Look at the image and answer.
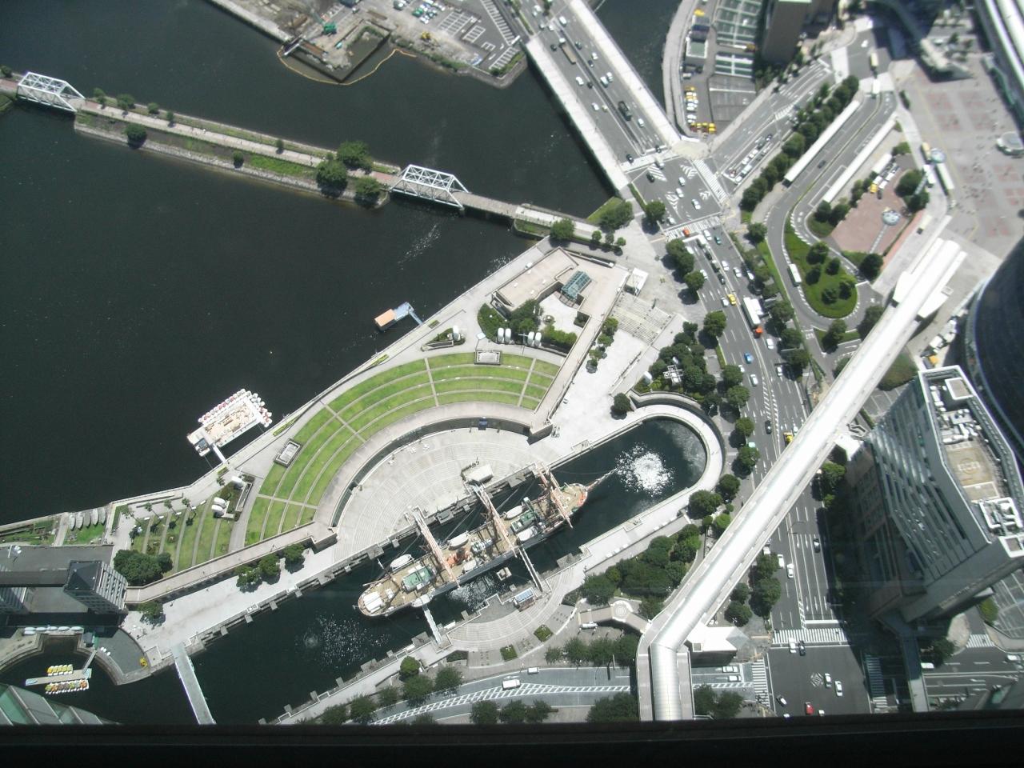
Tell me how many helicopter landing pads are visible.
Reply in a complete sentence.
Only 1 helicopter landing pad is visible.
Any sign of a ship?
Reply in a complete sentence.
Yes, I can see a ship in this picture.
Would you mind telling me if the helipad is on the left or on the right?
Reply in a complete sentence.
You can find the helipad on the right side of the picture.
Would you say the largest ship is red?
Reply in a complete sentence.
No, from above the largest ship looks white.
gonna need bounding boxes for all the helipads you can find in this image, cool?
[943,445,997,506]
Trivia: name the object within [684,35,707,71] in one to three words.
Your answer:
building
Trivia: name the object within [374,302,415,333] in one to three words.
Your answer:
pier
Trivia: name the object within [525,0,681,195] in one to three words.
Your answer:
bridge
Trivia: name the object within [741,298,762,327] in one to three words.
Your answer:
bus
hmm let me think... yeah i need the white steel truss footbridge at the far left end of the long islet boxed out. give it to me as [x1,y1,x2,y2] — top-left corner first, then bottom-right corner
[12,75,86,114]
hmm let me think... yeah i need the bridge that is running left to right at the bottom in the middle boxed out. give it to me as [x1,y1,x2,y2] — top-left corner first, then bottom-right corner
[577,599,648,635]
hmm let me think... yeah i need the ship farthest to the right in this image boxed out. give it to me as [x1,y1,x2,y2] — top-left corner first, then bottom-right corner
[353,459,616,614]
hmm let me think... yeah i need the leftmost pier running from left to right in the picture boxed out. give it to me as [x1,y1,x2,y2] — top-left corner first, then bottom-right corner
[25,655,95,686]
